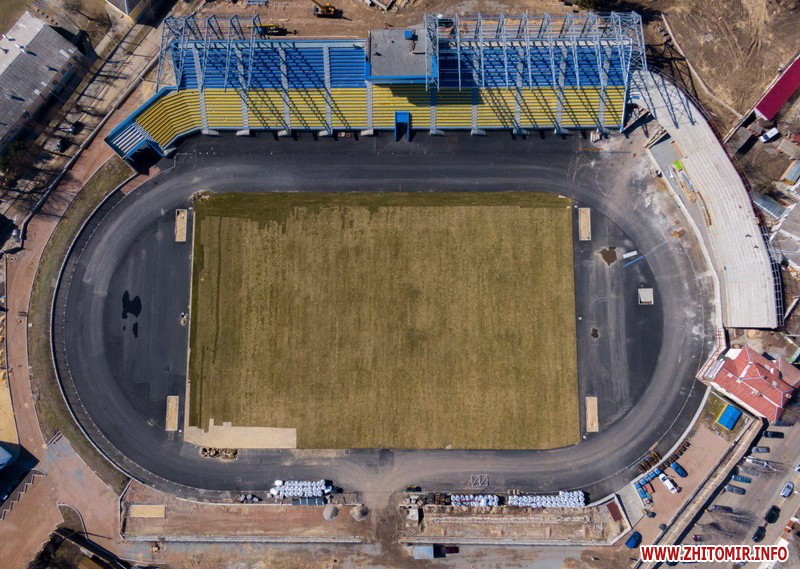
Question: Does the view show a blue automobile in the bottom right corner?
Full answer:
Yes, looking in the bottom right corner, one can make out a blue automobile.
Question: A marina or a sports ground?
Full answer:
The picture captures a sports ground.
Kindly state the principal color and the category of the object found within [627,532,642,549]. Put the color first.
blue car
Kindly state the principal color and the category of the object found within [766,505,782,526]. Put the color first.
black car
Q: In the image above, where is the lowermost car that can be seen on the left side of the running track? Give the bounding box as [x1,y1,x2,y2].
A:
[7,224,20,244]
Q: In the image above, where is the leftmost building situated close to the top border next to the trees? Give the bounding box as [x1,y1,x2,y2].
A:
[0,13,84,156]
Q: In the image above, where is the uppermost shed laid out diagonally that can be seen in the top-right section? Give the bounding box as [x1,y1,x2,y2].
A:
[748,54,800,119]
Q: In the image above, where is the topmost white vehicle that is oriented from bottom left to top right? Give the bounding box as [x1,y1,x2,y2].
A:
[761,124,785,141]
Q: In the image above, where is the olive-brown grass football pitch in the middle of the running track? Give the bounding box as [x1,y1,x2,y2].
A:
[184,194,580,449]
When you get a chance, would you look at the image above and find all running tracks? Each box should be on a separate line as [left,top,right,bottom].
[52,116,721,506]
